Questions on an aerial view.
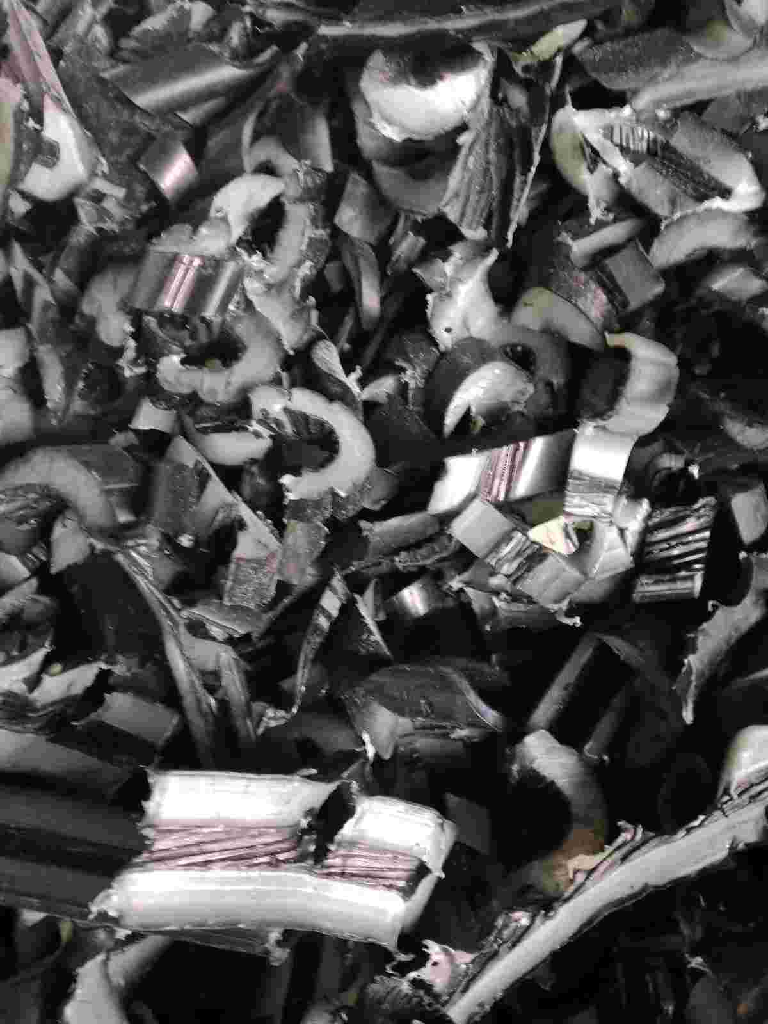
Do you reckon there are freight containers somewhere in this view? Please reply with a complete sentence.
No, I find no freight container anywhere in the image.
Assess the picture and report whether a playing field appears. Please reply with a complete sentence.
No, this view has no playing field in it.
